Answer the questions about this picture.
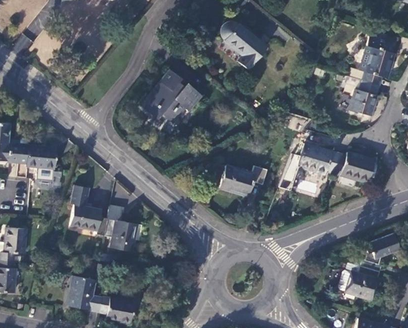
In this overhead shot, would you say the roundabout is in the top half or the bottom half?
bottom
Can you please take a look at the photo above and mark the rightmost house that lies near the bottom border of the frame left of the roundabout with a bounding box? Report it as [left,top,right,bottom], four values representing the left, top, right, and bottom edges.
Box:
[107,294,138,325]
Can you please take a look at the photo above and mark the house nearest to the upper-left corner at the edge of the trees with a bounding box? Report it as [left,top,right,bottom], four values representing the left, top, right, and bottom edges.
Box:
[0,121,58,180]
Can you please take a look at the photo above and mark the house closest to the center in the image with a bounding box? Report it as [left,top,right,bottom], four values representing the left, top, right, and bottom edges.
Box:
[219,164,268,197]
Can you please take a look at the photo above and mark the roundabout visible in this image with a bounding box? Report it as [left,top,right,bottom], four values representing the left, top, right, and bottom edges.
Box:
[202,238,289,323]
